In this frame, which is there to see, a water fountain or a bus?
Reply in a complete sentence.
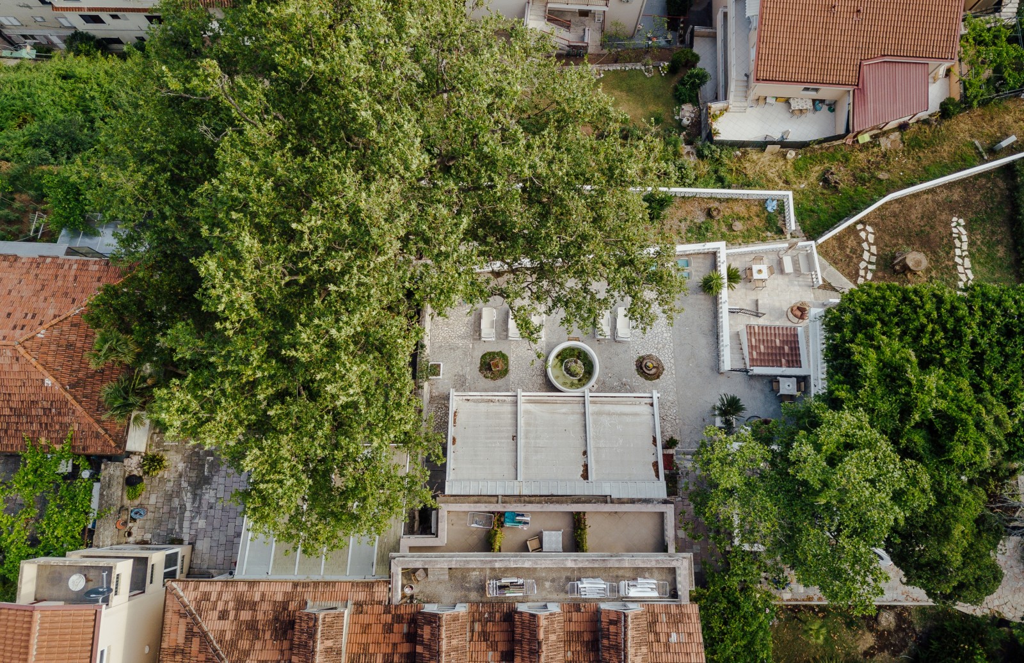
I can see a water fountain in this picture.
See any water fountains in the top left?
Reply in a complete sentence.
No, no water fountain is visible in the top left.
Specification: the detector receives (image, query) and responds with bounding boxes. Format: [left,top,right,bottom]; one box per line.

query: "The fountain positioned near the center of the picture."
[548,339,601,392]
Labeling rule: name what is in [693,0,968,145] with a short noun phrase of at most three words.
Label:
house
